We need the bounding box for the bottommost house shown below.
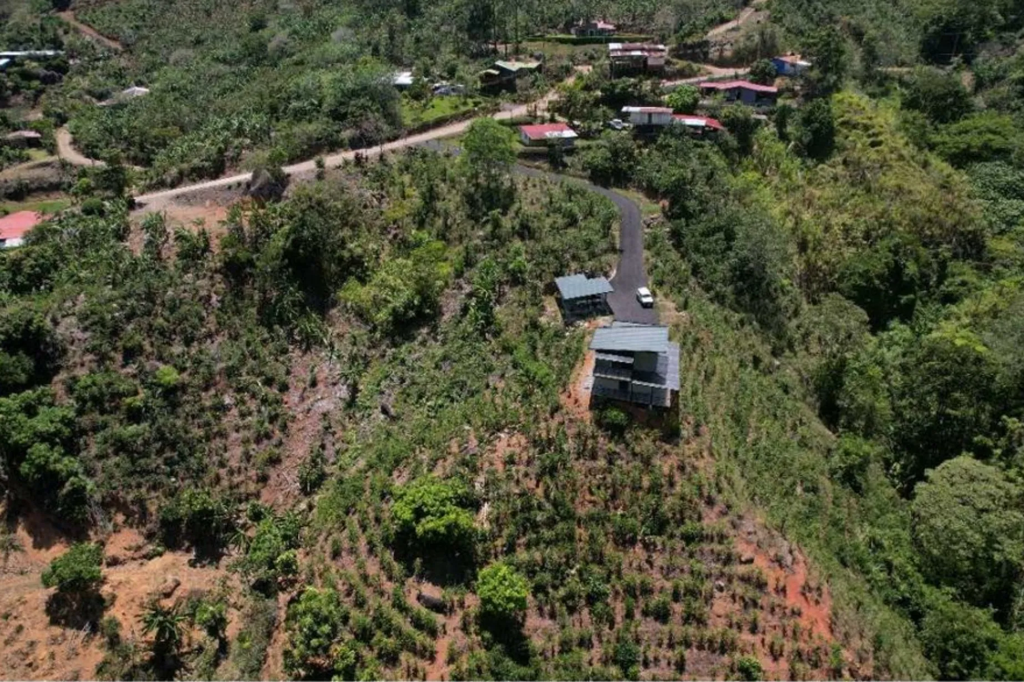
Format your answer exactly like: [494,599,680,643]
[584,324,683,427]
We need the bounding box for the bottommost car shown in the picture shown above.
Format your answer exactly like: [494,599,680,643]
[636,285,653,304]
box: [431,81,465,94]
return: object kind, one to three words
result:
shed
